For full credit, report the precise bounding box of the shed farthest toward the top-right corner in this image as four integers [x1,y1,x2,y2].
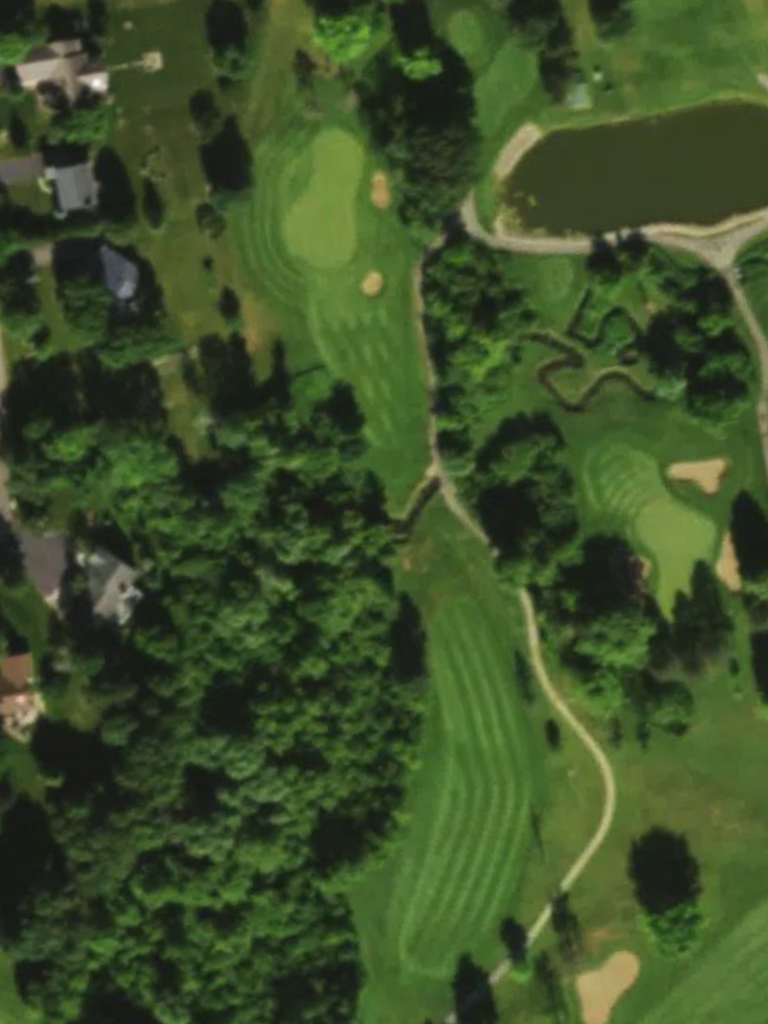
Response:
[570,83,589,108]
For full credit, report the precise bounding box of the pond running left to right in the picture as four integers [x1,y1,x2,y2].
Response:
[501,102,768,234]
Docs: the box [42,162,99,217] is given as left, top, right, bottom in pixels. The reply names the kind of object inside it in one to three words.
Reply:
house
